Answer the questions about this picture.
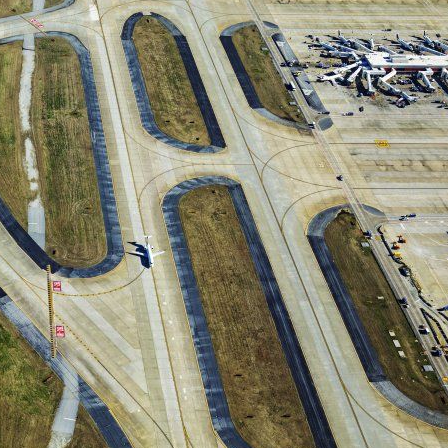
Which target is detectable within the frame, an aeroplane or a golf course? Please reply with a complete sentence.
The one in the frame is an aeroplane.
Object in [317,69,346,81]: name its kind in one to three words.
airplane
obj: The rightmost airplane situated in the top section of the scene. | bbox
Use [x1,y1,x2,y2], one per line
[414,29,435,47]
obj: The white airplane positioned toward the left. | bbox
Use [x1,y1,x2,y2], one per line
[130,233,166,266]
